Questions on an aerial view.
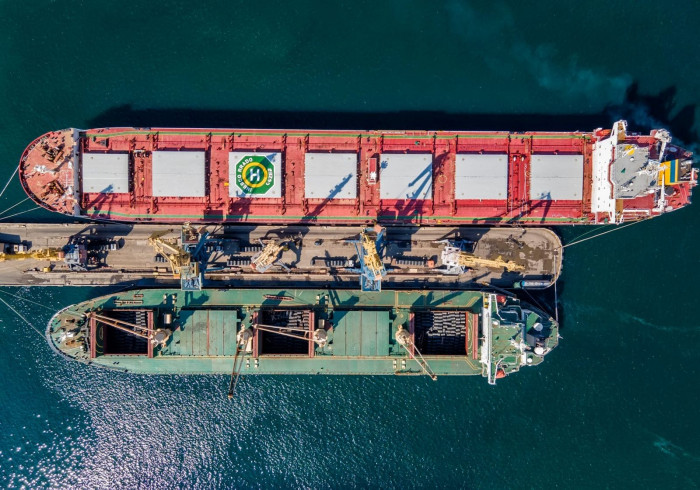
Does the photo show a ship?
Yes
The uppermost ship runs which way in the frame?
horizontally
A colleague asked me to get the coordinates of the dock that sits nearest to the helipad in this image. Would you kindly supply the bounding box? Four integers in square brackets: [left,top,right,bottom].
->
[0,220,565,292]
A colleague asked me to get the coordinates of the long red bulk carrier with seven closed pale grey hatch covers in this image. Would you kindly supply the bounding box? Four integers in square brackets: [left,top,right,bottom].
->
[17,120,699,224]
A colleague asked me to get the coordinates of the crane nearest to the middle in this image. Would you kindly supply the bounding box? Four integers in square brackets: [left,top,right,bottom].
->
[341,224,402,291]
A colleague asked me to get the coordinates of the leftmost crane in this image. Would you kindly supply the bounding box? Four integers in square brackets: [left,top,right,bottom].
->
[0,239,112,272]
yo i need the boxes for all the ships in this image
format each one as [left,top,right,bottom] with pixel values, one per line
[45,288,564,400]
[17,120,699,224]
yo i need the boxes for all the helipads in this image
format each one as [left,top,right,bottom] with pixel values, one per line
[236,155,275,194]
